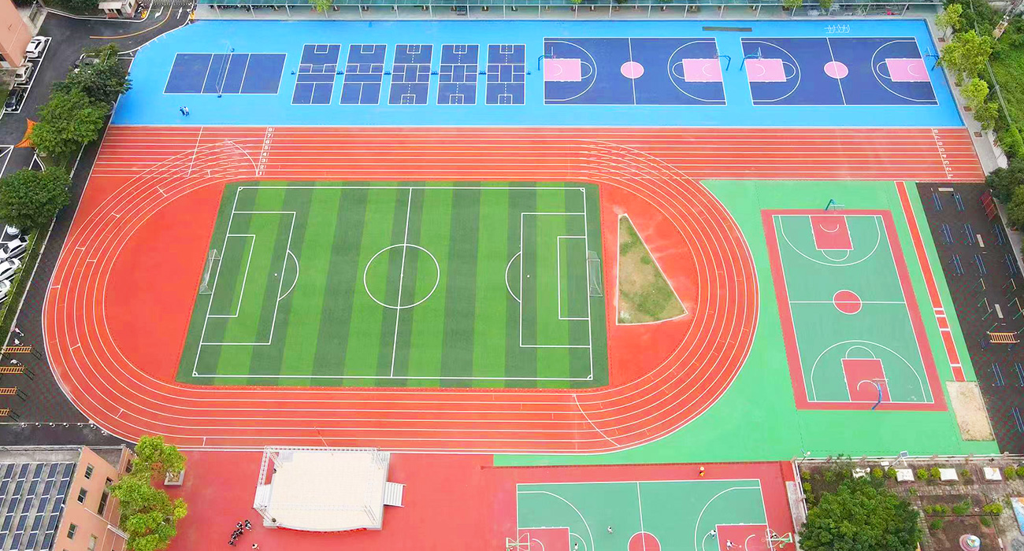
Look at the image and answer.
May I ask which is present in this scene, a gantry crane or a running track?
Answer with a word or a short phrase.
running track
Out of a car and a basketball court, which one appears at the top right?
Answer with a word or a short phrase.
basketball court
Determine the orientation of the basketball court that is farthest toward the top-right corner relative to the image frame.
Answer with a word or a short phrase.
horizontally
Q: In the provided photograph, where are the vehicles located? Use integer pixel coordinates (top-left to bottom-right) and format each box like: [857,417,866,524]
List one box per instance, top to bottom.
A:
[22,36,48,58]
[11,62,36,83]
[0,86,27,110]
[0,217,29,242]
[0,233,32,261]
[0,255,25,278]
[0,276,16,296]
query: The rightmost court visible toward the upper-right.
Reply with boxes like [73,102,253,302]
[741,37,939,105]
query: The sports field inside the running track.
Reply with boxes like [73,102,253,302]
[174,182,609,386]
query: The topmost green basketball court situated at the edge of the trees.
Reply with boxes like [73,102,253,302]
[761,209,948,412]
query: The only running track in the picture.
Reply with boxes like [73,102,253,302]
[41,126,983,456]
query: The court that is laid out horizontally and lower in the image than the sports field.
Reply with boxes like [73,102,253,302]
[517,479,772,551]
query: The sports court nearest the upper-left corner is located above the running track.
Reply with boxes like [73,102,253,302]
[163,53,287,94]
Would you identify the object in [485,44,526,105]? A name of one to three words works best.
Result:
sports court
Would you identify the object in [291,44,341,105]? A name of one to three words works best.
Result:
sports court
